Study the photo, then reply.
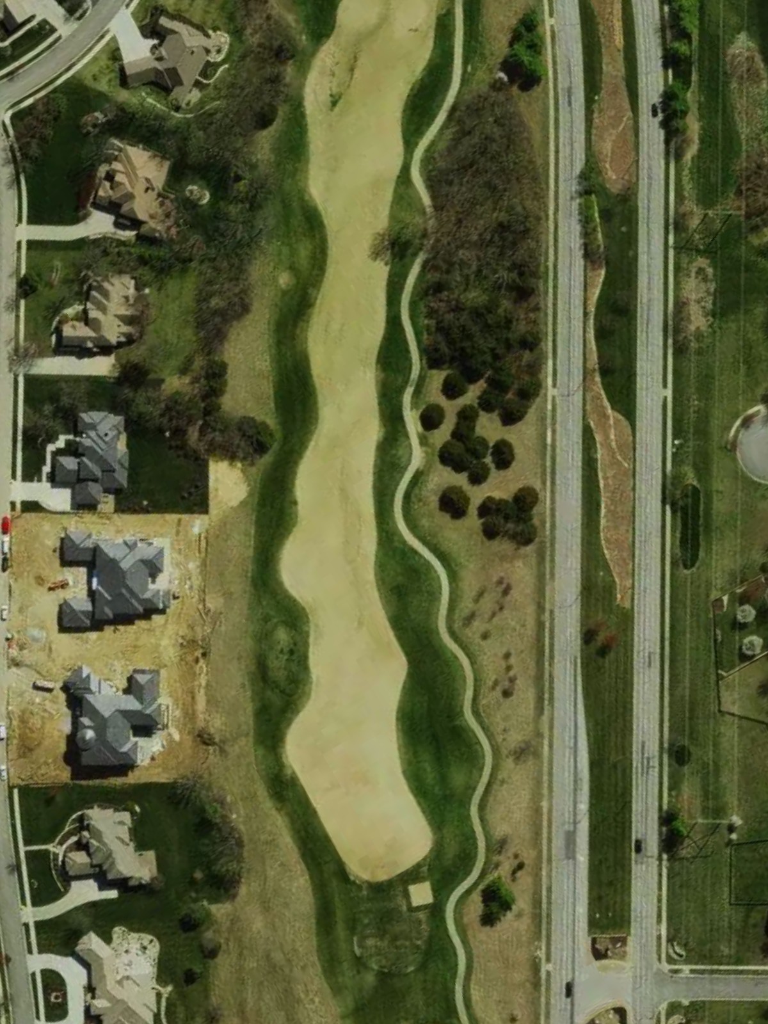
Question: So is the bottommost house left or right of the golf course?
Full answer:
Relative to the golf course, the bottommost house is on the left.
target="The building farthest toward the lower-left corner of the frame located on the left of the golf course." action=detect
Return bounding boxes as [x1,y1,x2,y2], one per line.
[74,929,159,1024]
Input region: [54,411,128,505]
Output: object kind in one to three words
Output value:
house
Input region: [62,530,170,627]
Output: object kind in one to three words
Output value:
house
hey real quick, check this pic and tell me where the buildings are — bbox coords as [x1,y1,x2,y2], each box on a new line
[54,411,128,505]
[62,664,161,767]
[59,274,140,346]
[74,929,159,1024]
[123,12,216,108]
[62,530,170,627]
[63,809,158,886]
[0,0,17,34]
[95,142,172,236]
